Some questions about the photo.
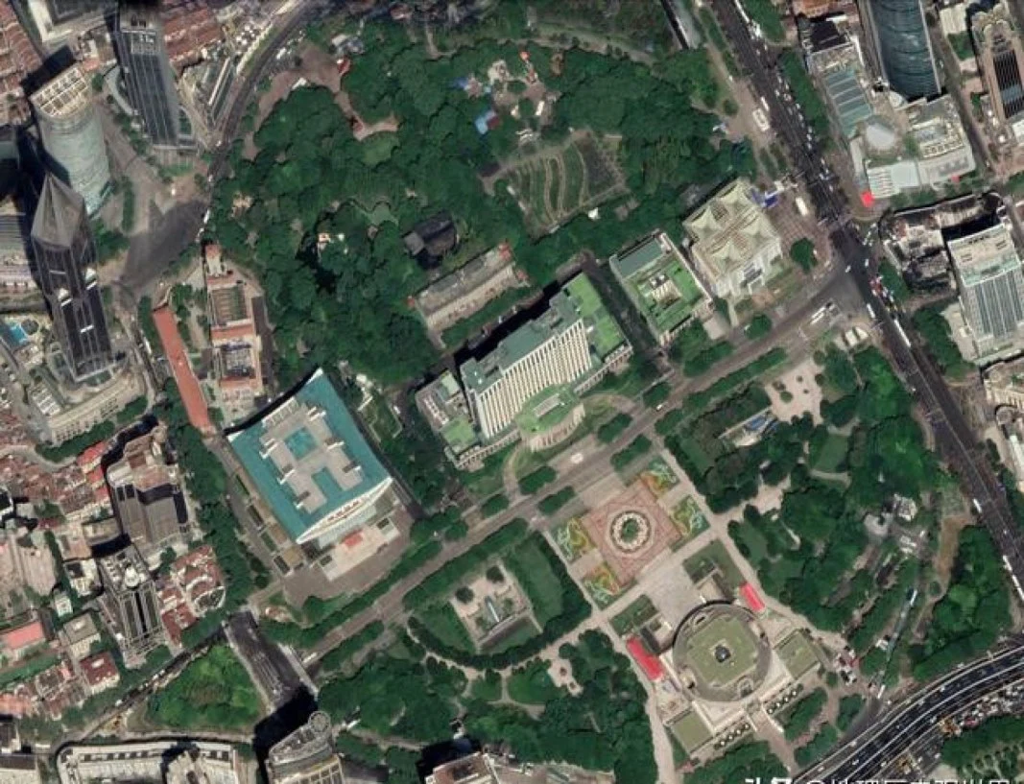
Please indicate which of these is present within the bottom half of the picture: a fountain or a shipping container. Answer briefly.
fountain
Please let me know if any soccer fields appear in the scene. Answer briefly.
No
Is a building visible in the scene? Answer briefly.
Yes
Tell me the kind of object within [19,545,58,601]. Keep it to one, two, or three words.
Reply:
shed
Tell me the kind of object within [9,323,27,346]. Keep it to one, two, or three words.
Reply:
swimming pool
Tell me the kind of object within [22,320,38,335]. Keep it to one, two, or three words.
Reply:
gazebo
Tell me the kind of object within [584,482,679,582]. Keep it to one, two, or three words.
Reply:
fountain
